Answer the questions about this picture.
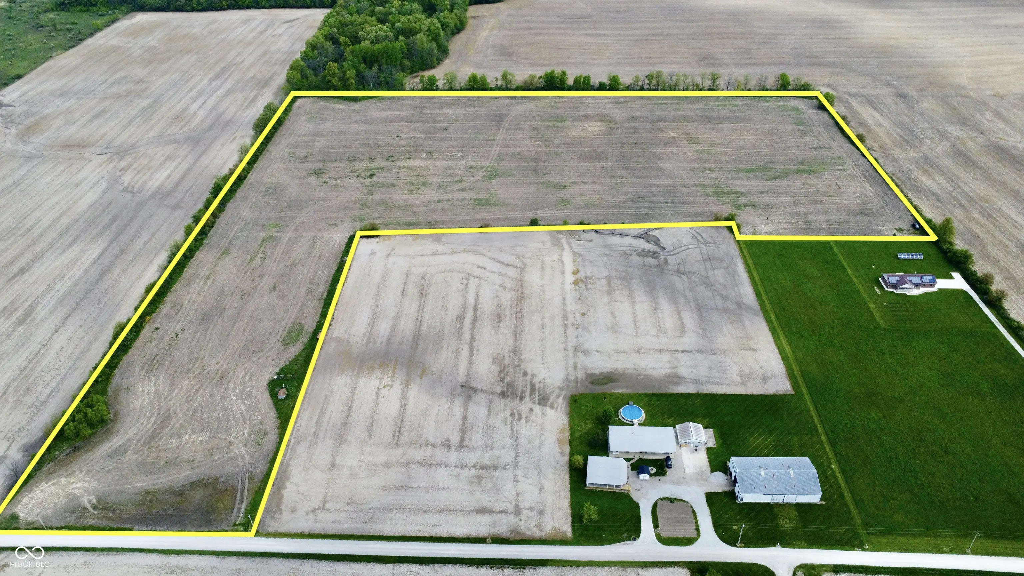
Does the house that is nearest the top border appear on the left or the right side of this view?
right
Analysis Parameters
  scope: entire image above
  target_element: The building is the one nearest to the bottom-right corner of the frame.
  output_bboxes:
[729,455,823,503]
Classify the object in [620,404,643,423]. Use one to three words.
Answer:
swimming pool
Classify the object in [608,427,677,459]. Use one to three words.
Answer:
house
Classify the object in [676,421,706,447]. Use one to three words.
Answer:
building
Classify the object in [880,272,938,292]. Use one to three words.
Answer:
house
